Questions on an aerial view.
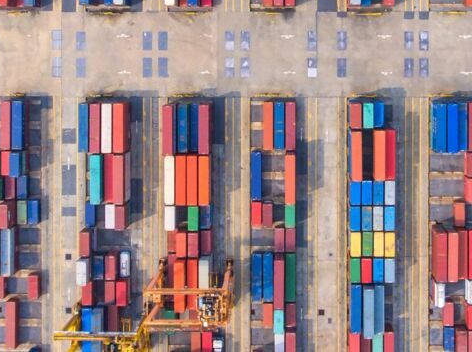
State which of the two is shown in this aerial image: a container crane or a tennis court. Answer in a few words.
container crane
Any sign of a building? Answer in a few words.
No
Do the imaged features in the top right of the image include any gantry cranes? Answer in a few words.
No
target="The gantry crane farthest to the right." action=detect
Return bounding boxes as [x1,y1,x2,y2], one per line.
[144,263,233,328]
